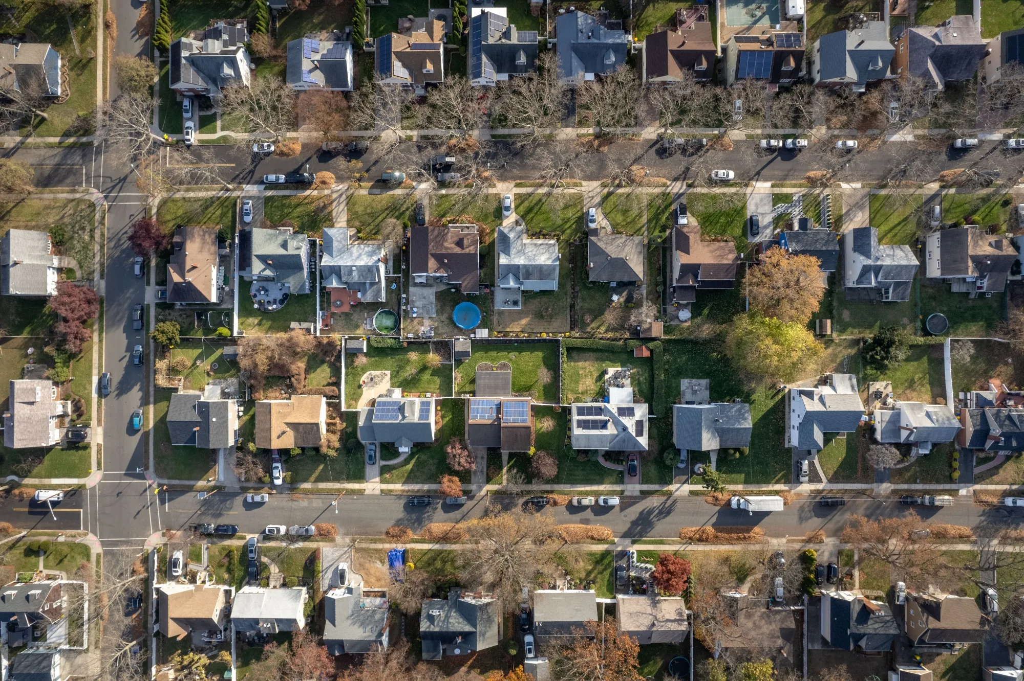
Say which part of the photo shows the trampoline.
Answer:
right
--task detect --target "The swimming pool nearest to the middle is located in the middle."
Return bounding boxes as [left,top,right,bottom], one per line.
[453,301,481,329]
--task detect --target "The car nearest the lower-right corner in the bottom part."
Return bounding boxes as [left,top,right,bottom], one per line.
[984,588,997,611]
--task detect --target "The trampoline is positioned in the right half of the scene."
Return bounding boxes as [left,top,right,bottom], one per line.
[927,312,949,334]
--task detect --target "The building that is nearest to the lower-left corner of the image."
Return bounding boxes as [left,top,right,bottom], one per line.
[7,650,60,681]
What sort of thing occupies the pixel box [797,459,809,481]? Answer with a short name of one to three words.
vehicle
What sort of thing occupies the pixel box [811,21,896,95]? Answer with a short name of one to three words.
house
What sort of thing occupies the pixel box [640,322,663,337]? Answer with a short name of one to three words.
shed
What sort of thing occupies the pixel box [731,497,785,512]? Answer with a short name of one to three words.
vehicle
